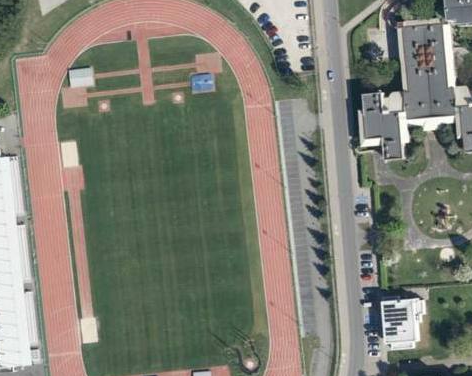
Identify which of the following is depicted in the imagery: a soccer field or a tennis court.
soccer field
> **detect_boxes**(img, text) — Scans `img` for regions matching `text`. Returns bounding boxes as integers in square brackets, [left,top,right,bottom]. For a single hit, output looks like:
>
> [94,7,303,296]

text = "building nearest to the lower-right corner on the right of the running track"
[381,298,428,351]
